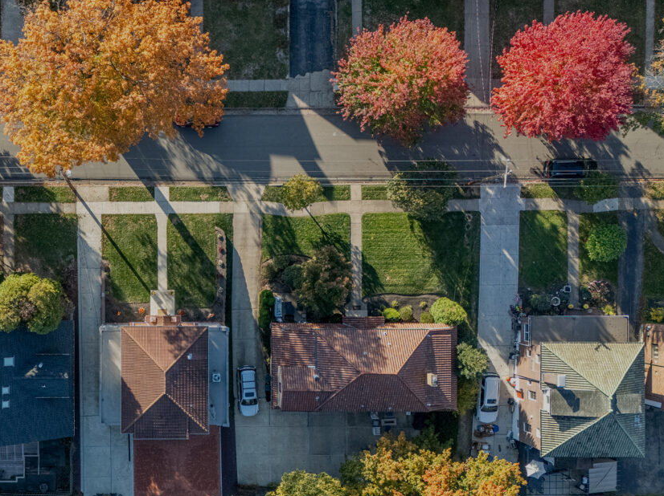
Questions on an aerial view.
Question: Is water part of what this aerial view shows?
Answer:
No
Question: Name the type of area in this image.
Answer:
residential area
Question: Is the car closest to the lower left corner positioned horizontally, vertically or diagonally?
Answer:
vertically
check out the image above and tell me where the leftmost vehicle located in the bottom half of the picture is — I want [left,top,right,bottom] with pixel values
[238,366,261,417]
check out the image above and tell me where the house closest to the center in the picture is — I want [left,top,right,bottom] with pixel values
[269,305,457,412]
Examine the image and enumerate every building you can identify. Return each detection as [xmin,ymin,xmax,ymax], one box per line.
[0,311,75,445]
[98,314,228,496]
[517,315,646,458]
[269,305,457,412]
